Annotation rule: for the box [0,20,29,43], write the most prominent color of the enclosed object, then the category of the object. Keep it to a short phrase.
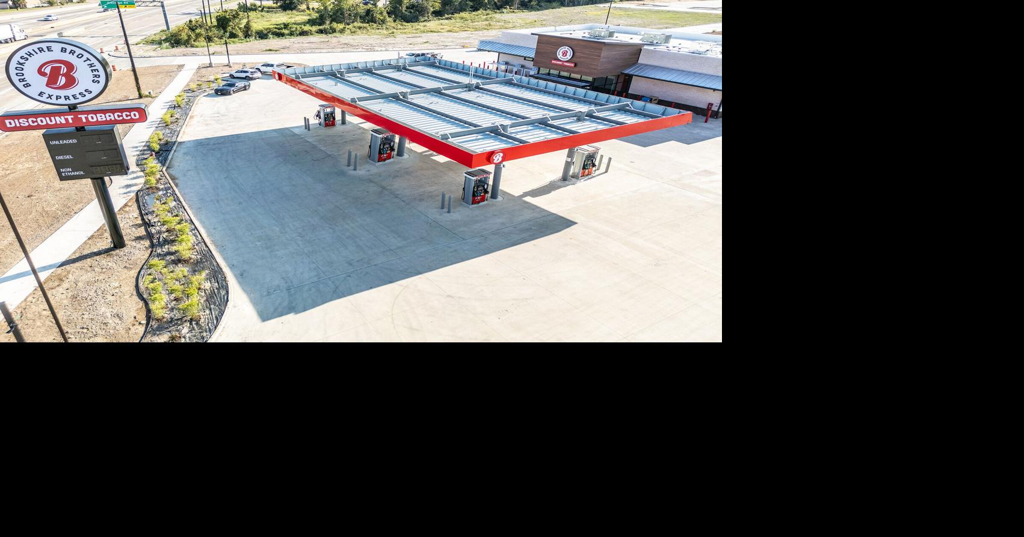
white truck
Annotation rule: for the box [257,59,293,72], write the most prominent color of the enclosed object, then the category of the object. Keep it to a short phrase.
white vehicle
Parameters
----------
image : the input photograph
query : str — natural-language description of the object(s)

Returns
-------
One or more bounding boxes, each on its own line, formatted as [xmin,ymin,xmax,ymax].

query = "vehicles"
[257,59,293,72]
[0,20,29,43]
[216,79,250,95]
[230,66,262,80]
[47,12,60,20]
